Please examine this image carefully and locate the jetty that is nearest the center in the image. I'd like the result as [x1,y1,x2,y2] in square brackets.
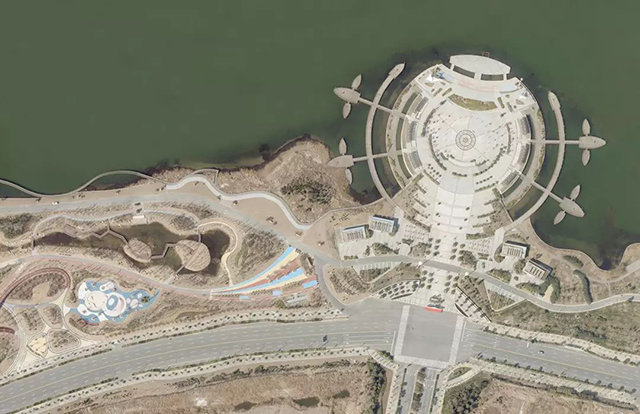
[328,138,388,184]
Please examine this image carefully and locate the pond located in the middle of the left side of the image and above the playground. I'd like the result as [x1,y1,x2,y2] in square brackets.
[34,221,230,275]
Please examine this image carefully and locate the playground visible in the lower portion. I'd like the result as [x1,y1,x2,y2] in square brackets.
[69,281,160,323]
